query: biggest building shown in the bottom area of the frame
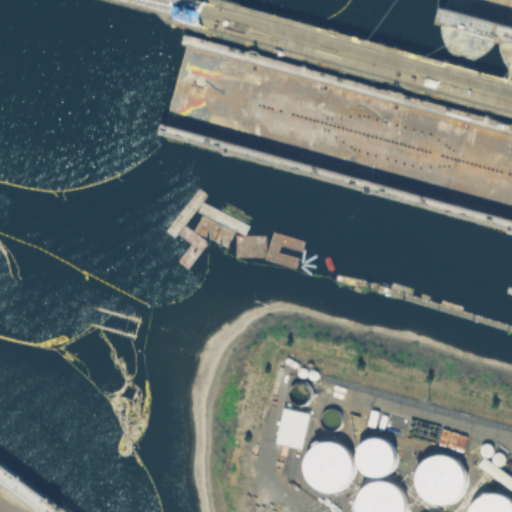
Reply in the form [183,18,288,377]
[277,408,312,450]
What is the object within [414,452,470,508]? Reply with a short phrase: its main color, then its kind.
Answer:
white storage tank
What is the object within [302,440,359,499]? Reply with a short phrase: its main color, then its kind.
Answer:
white storage tank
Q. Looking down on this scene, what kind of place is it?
industrial area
